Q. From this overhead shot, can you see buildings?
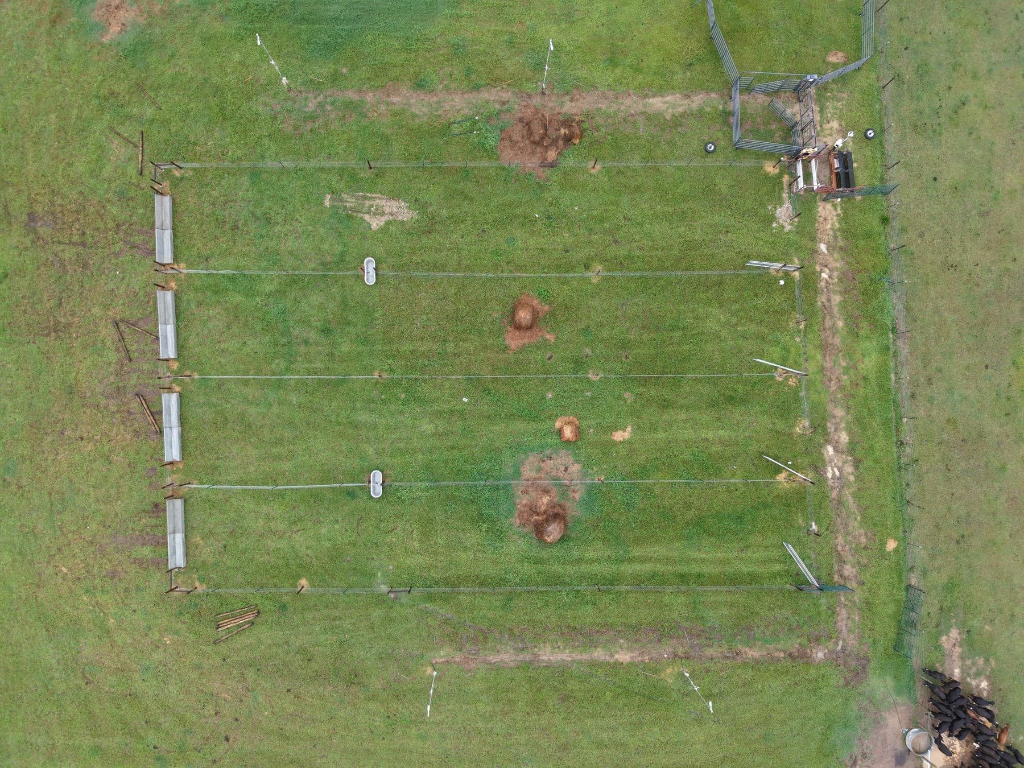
No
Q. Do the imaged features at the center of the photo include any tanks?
No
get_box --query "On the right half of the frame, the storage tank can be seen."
[906,729,936,758]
